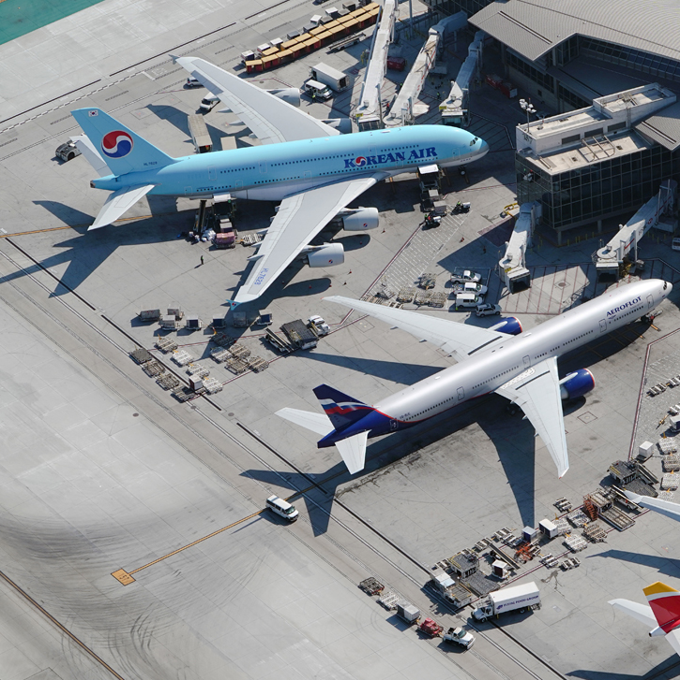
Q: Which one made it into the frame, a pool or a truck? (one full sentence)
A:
Visible in the photo is a truck.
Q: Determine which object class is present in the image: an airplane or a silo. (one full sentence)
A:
Visible in the photo is an airplane.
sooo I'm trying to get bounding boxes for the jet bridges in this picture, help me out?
[441,32,492,123]
[355,0,410,129]
[592,181,679,279]
[497,200,543,287]
[382,11,472,129]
